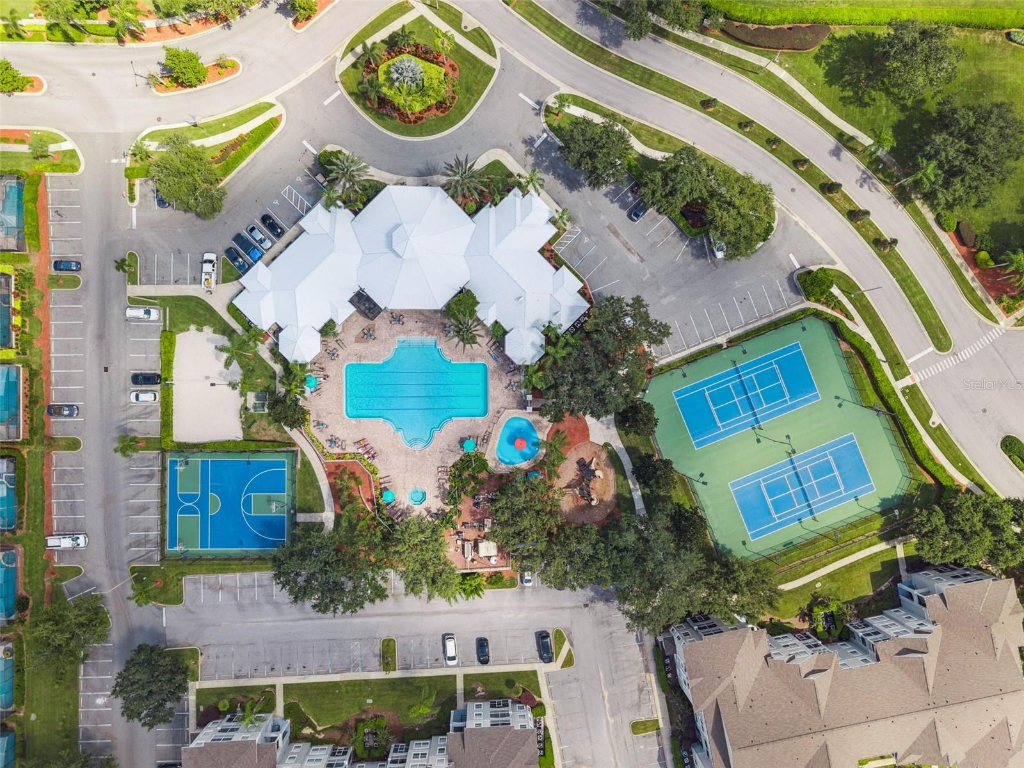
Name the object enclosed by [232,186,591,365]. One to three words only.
building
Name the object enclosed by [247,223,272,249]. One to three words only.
car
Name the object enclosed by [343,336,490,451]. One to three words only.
swimming pool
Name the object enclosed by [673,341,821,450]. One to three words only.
tennis court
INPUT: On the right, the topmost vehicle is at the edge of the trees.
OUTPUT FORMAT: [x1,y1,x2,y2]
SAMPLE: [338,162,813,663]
[627,197,649,223]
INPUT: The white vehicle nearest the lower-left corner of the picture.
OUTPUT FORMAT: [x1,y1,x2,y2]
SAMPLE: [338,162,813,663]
[47,534,87,550]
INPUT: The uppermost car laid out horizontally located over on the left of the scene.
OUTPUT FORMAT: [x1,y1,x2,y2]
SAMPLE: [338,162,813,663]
[54,259,83,272]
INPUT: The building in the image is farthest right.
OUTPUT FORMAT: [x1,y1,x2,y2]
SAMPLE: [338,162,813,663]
[674,568,1024,768]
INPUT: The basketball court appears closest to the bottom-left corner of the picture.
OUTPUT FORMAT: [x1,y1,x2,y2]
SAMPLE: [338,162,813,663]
[165,451,297,559]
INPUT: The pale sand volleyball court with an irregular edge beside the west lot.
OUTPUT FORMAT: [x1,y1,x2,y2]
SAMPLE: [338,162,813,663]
[172,325,243,442]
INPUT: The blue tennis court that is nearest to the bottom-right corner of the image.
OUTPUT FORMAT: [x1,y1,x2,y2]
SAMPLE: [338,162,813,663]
[729,432,876,541]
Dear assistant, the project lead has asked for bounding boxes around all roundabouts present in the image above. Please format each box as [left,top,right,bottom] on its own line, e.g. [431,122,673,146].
[334,0,500,140]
